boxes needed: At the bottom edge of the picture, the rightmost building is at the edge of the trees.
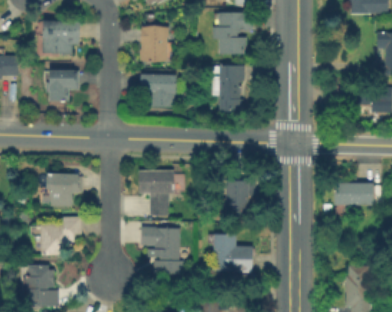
[345,267,370,312]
